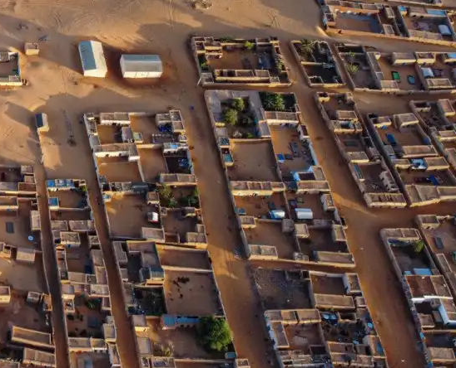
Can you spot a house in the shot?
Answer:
Yes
